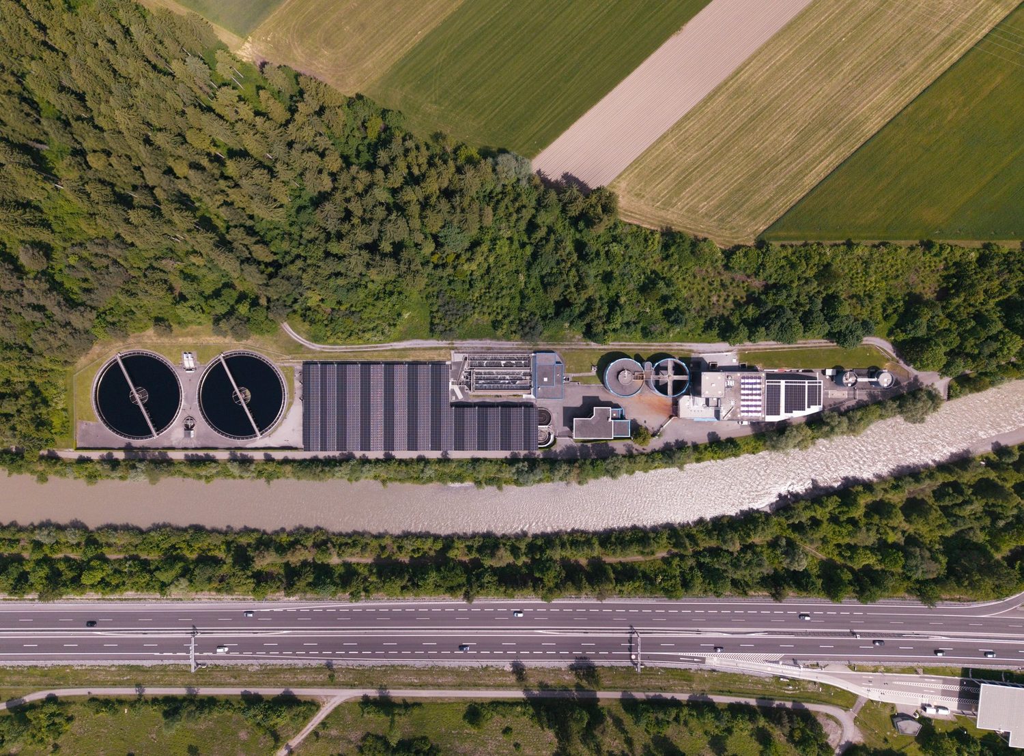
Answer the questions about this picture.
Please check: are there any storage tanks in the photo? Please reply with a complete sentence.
Yes, the photo shows a storage tank.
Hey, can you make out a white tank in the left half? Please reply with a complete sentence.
No, the scene shows no white tank in the left half.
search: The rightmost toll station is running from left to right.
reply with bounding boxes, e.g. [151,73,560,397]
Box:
[936,678,983,699]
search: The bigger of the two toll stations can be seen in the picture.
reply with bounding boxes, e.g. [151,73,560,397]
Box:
[825,672,943,695]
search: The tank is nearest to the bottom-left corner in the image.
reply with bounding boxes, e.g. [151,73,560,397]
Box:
[93,348,186,441]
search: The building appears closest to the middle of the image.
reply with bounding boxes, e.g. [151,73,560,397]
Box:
[532,353,563,398]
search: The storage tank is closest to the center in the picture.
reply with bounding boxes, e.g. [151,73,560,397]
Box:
[603,358,645,397]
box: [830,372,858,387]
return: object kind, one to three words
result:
silo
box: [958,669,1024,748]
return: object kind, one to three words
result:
building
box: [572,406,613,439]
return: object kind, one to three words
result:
building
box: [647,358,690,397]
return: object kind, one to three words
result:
storage tank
